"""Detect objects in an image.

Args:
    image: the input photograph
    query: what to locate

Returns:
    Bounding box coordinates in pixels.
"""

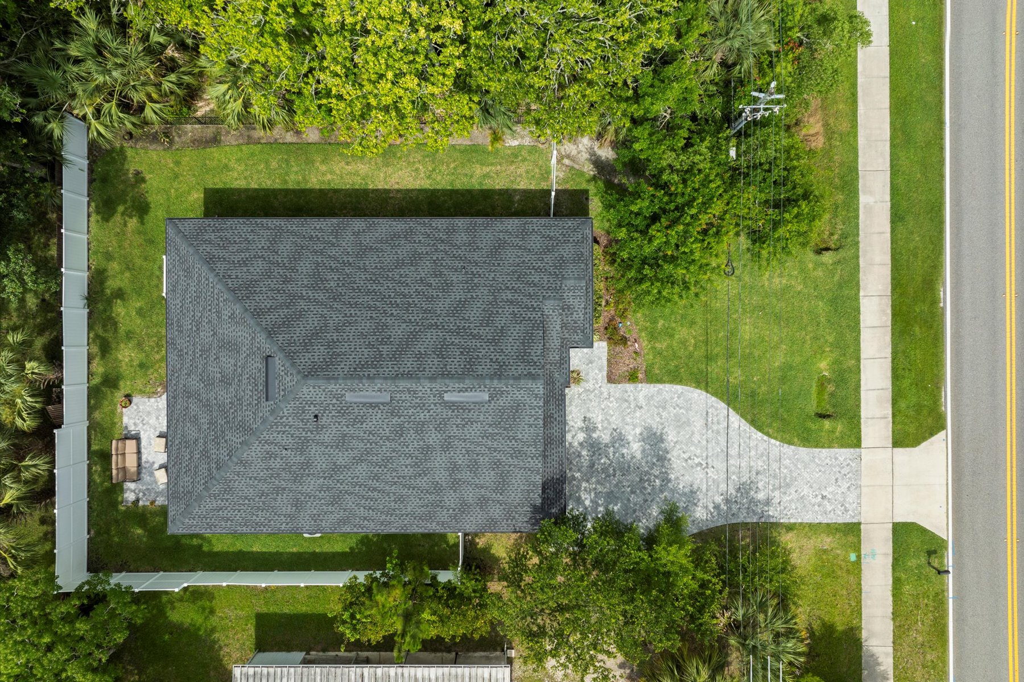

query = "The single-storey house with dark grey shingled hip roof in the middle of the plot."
[164,215,595,535]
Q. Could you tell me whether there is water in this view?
No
